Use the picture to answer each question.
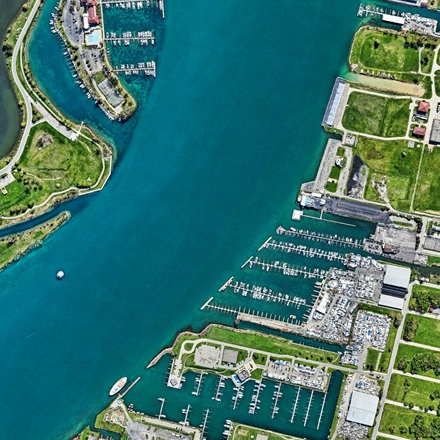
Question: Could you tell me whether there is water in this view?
Yes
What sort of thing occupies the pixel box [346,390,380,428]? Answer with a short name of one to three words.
shed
